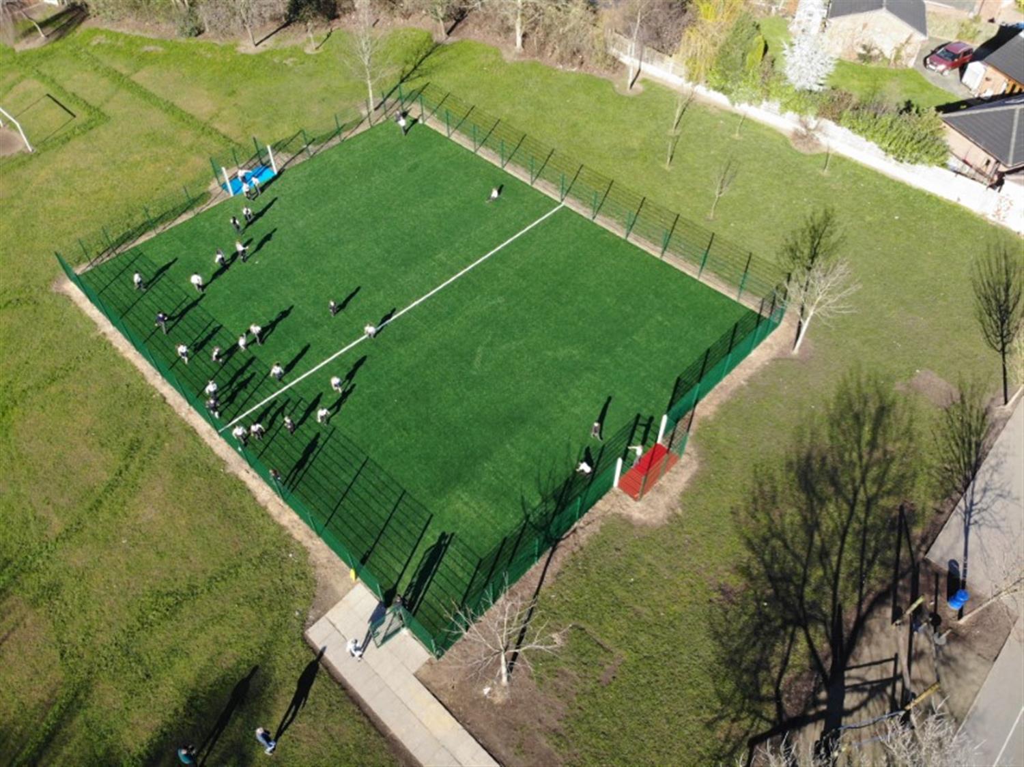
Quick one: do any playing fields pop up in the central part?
Yes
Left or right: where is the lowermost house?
right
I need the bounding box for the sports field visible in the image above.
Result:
[73,110,779,662]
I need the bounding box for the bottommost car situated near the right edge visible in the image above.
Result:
[929,36,981,77]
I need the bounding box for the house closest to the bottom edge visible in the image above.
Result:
[932,97,1024,194]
